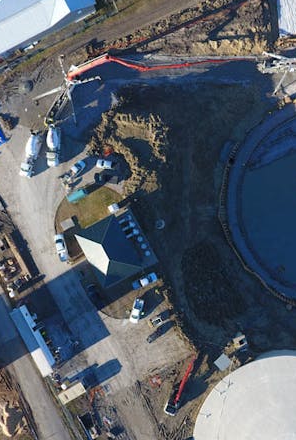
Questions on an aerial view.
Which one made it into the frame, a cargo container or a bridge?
cargo container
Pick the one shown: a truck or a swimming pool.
truck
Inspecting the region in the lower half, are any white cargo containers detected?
Yes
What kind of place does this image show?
industrial area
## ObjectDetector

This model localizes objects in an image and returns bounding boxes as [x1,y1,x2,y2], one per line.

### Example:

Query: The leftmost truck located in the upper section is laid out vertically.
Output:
[17,130,42,177]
